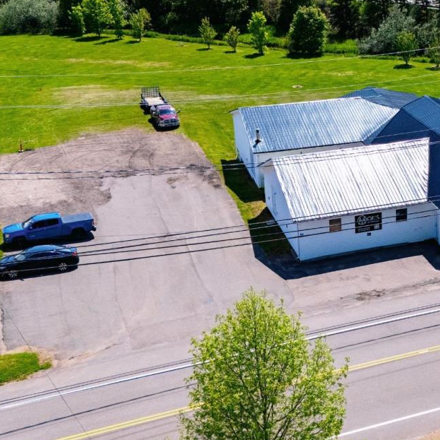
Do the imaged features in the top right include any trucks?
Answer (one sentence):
No, in the top right there is no truck.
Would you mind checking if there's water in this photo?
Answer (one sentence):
No, there is no water in the image.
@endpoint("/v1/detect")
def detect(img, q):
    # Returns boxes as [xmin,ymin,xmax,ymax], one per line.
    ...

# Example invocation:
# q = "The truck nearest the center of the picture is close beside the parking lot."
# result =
[149,100,178,128]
